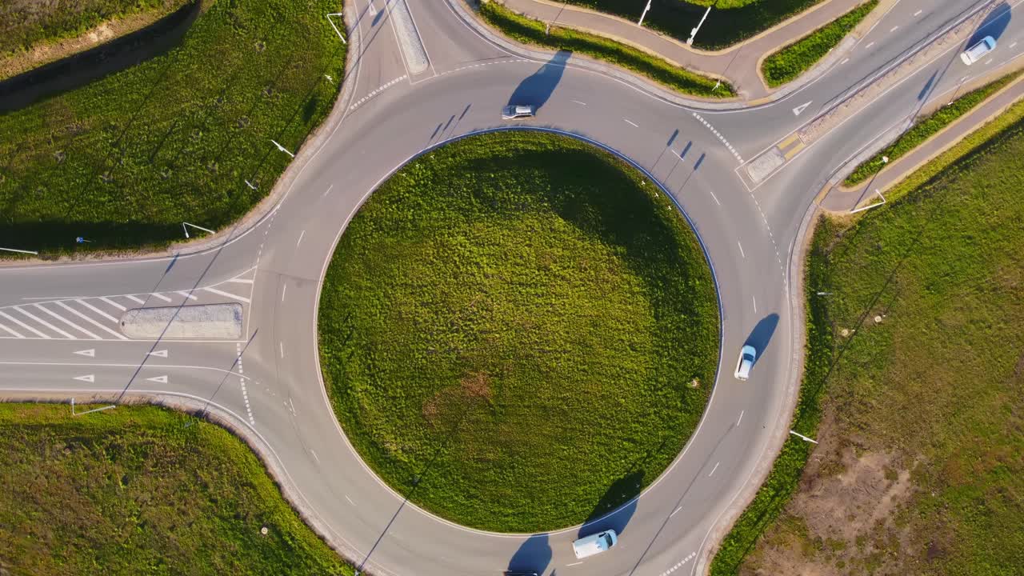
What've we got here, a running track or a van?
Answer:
van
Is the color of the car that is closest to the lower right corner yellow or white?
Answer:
white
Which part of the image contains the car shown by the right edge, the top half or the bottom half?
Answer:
top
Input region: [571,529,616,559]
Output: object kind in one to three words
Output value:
van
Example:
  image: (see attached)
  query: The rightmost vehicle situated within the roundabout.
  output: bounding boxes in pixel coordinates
[733,344,755,380]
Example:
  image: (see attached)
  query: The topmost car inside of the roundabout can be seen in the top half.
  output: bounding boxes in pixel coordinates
[503,103,536,121]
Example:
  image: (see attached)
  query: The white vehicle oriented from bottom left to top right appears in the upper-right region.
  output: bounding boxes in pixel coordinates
[958,36,996,65]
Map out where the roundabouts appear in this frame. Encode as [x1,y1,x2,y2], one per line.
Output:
[228,54,792,576]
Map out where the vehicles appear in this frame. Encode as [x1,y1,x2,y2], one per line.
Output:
[503,570,539,576]
[958,36,996,65]
[571,529,616,559]
[733,344,755,380]
[503,103,536,121]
